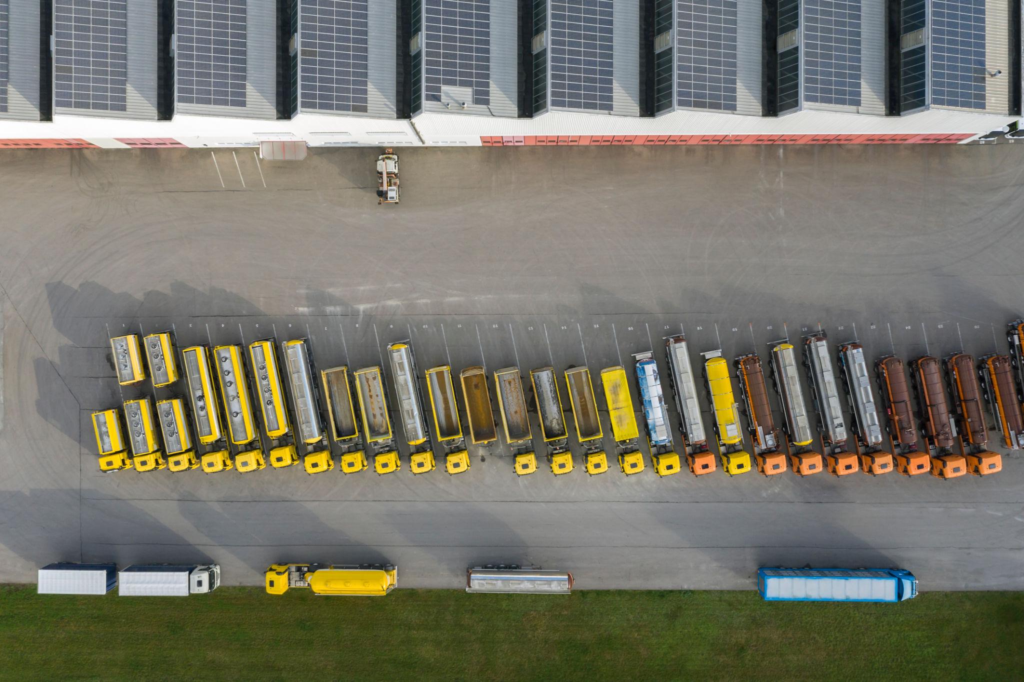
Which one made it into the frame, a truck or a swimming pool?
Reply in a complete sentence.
It is a truck that can be seen here.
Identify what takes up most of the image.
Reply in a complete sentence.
For the most part, this view shows paved ground.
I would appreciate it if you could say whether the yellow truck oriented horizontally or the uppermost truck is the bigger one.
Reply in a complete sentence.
The larger object is the yellow truck oriented horizontally, with the uppermost truck being the smaller of the pair.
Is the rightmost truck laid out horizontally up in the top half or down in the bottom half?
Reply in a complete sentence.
Seen from above, the rightmost truck laid out horizontally lies in the bottom half of the view.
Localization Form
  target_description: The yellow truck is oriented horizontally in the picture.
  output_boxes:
[261,564,397,596]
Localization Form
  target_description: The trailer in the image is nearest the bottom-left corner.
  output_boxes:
[38,562,121,594]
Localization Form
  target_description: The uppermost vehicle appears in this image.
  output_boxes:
[373,148,402,207]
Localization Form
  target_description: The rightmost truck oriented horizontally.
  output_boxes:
[758,568,918,602]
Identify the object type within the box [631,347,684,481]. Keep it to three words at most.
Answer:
truck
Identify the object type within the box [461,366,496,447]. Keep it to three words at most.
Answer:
trailer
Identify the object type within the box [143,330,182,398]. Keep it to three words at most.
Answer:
trailer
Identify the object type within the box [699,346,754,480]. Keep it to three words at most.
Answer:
truck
